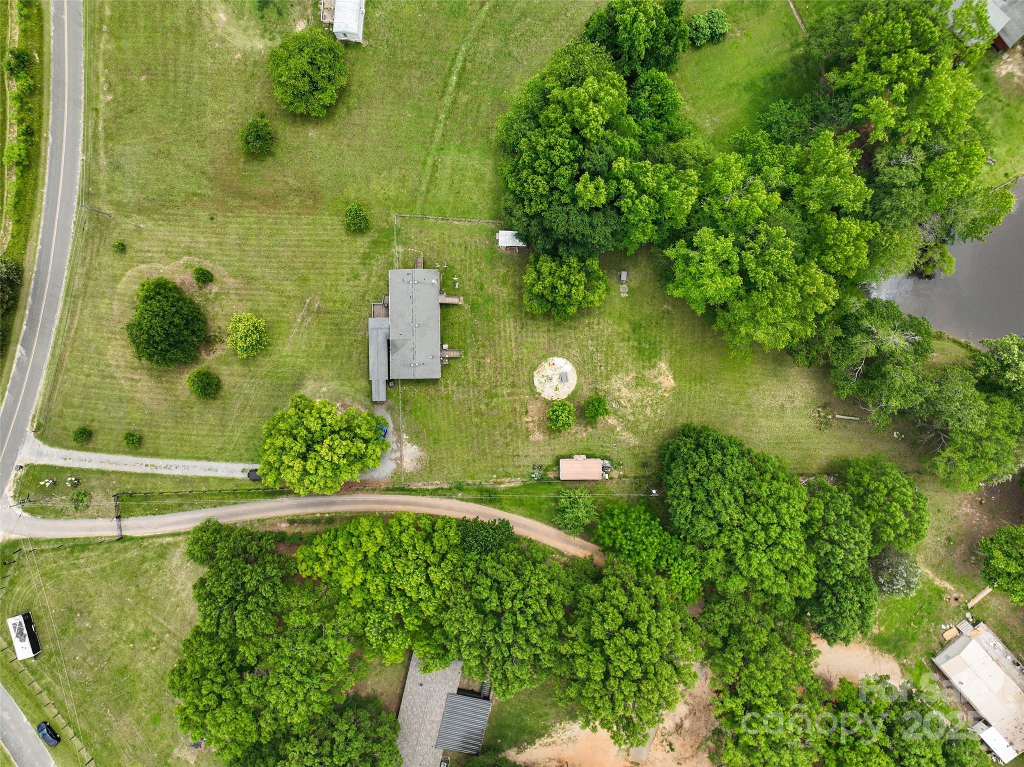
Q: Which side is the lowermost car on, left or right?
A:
left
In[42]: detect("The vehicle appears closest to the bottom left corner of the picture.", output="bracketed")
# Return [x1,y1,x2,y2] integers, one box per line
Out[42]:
[40,720,60,746]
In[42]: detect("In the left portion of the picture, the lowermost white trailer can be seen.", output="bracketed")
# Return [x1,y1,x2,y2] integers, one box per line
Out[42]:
[7,611,42,659]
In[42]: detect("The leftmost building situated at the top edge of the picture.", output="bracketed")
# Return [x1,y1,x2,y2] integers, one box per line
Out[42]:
[320,0,365,42]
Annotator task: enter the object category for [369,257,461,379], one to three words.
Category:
house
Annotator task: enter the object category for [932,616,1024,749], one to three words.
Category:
house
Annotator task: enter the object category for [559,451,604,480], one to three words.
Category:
shed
